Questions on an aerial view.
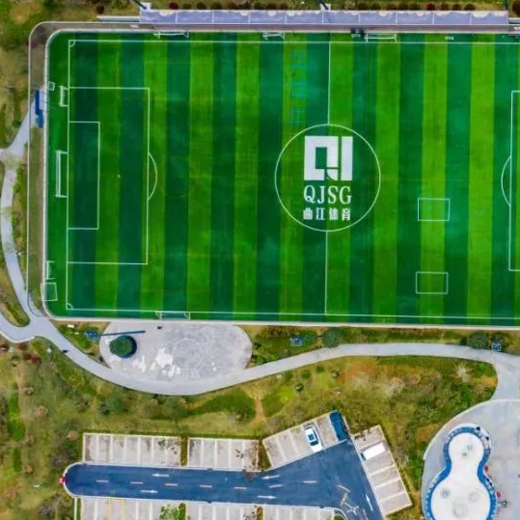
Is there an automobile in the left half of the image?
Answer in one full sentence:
No, no automobile is visible in the left half of the image.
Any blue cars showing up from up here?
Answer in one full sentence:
Yes, you can see a blue car in this photo.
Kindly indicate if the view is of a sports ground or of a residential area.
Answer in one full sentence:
The picture captures a sports ground.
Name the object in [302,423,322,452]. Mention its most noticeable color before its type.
white car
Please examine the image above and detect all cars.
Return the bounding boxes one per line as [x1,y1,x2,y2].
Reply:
[328,411,348,440]
[358,442,388,461]
[302,423,322,452]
